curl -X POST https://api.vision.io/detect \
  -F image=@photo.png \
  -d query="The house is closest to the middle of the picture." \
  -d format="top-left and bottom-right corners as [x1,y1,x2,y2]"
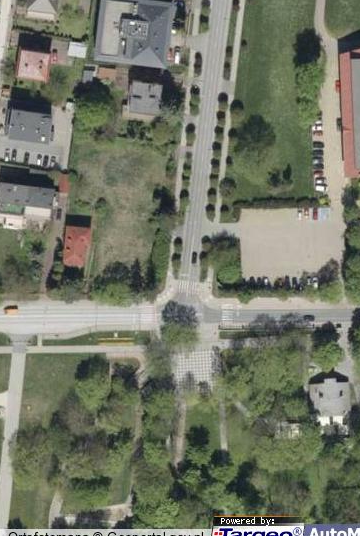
[63,226,91,266]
